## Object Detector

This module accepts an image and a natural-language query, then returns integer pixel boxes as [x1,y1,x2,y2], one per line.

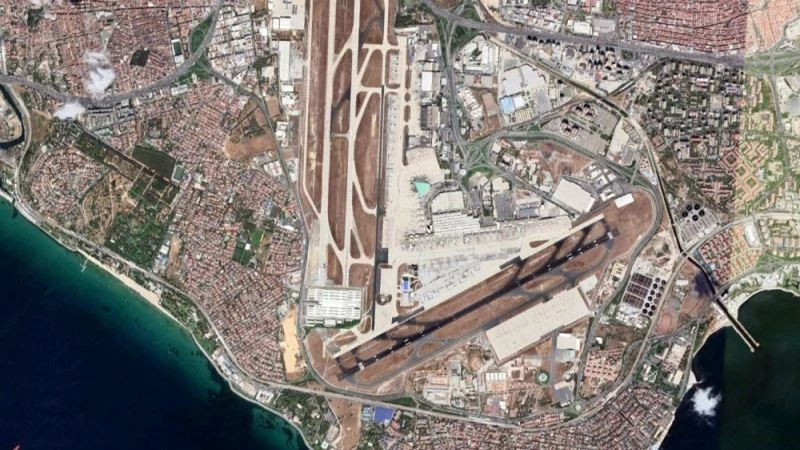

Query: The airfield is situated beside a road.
[270,0,653,388]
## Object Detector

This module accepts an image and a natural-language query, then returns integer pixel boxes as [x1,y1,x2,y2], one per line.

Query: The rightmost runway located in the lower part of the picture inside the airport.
[339,229,617,377]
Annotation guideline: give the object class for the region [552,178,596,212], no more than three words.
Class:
building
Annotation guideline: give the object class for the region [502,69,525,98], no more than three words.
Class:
building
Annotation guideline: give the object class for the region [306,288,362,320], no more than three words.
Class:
hangar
